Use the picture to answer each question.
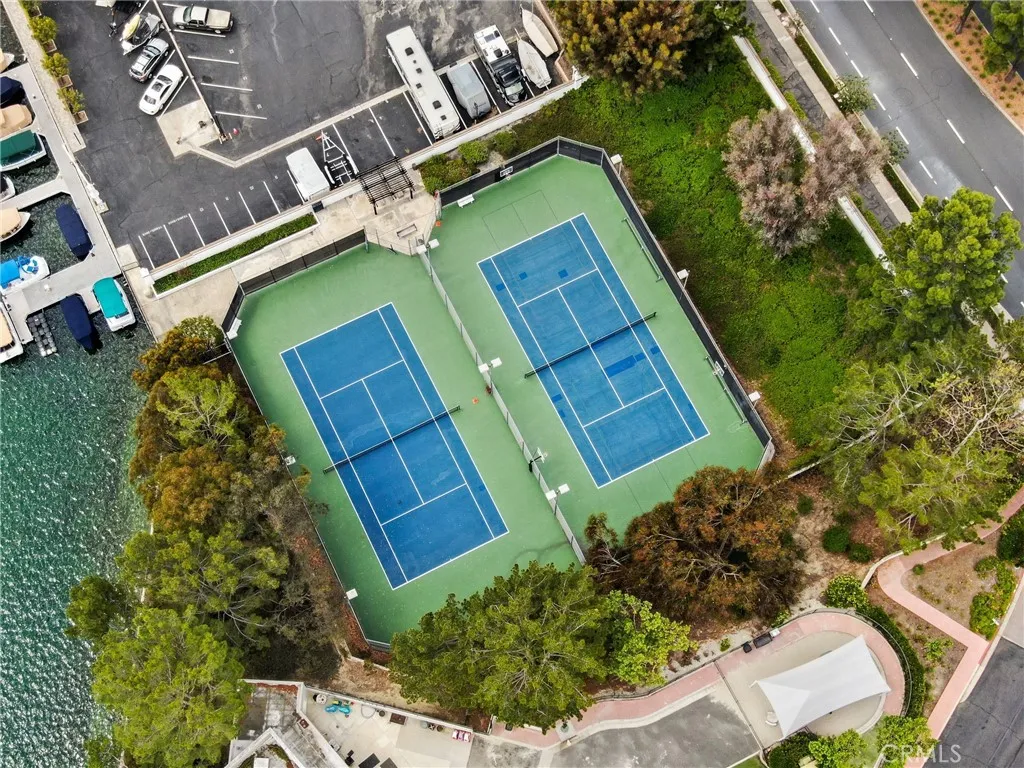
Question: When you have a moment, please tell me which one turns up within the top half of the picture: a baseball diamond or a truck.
truck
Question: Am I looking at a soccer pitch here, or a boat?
boat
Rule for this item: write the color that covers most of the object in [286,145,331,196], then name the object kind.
white trailer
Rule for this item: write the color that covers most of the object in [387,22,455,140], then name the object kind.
white camper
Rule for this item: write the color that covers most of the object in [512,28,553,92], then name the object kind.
white boat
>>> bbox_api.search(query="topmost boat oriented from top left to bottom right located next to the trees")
[515,0,558,58]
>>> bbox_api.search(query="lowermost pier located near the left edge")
[13,259,122,344]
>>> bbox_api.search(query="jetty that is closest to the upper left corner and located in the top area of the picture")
[0,61,28,85]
